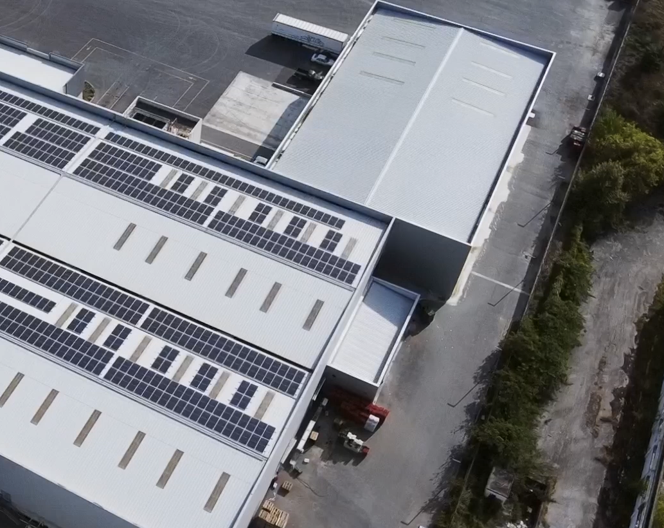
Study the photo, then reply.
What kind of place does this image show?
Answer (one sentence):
What you see here is an industrial area.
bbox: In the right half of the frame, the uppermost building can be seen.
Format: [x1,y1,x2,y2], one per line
[262,0,557,302]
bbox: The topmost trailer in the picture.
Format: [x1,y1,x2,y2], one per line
[270,13,347,56]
